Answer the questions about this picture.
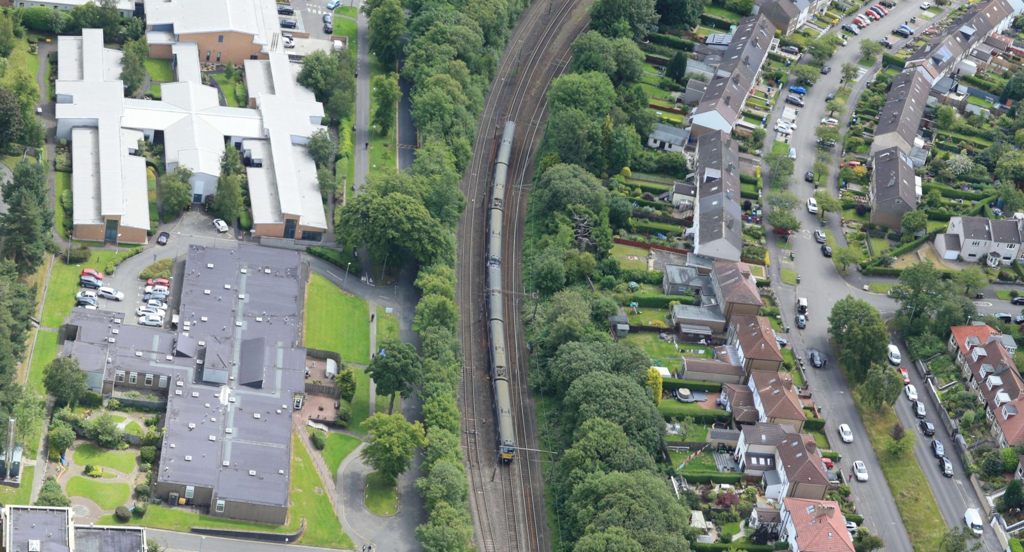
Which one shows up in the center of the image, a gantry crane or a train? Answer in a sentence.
The one visible in the center of the image is a train.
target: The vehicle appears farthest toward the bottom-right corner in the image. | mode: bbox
[963,507,984,533]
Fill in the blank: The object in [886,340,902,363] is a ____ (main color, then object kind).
white vehicle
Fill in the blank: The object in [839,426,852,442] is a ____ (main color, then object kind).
white vehicle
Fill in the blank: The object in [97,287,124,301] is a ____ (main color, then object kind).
white car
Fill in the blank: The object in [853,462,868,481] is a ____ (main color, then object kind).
white car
